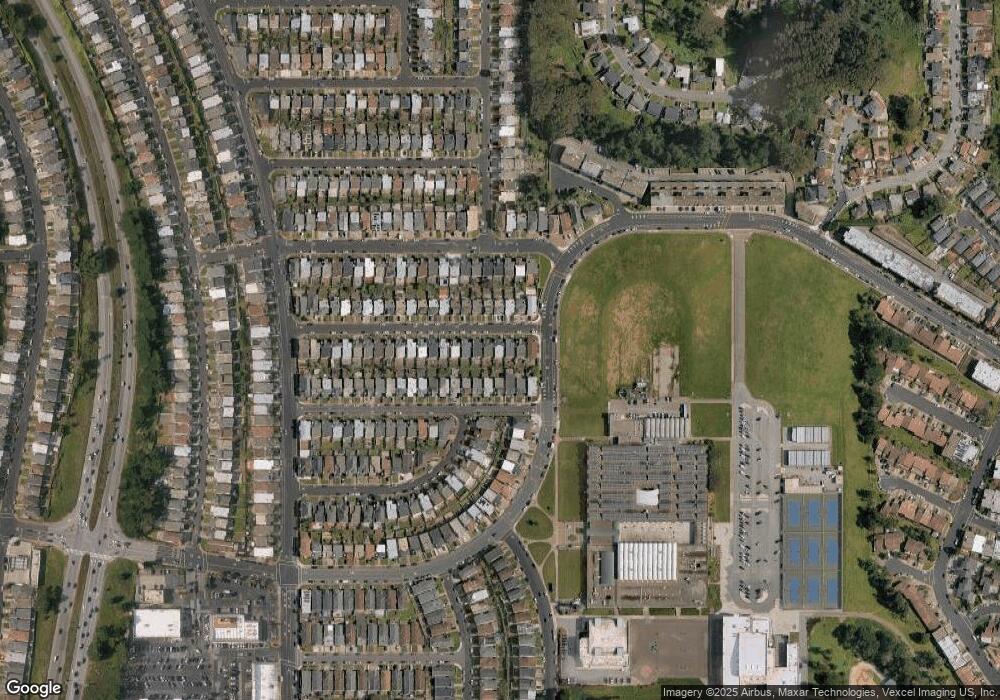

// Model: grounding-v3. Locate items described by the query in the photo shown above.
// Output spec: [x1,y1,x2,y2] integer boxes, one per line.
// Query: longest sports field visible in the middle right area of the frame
[746,235,872,608]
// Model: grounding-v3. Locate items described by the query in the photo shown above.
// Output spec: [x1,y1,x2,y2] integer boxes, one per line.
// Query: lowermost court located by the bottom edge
[631,618,707,684]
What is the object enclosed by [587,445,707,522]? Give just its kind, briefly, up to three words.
building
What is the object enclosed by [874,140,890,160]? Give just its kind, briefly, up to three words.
house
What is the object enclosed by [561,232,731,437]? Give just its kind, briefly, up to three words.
sports field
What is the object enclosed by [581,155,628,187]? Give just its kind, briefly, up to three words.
building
